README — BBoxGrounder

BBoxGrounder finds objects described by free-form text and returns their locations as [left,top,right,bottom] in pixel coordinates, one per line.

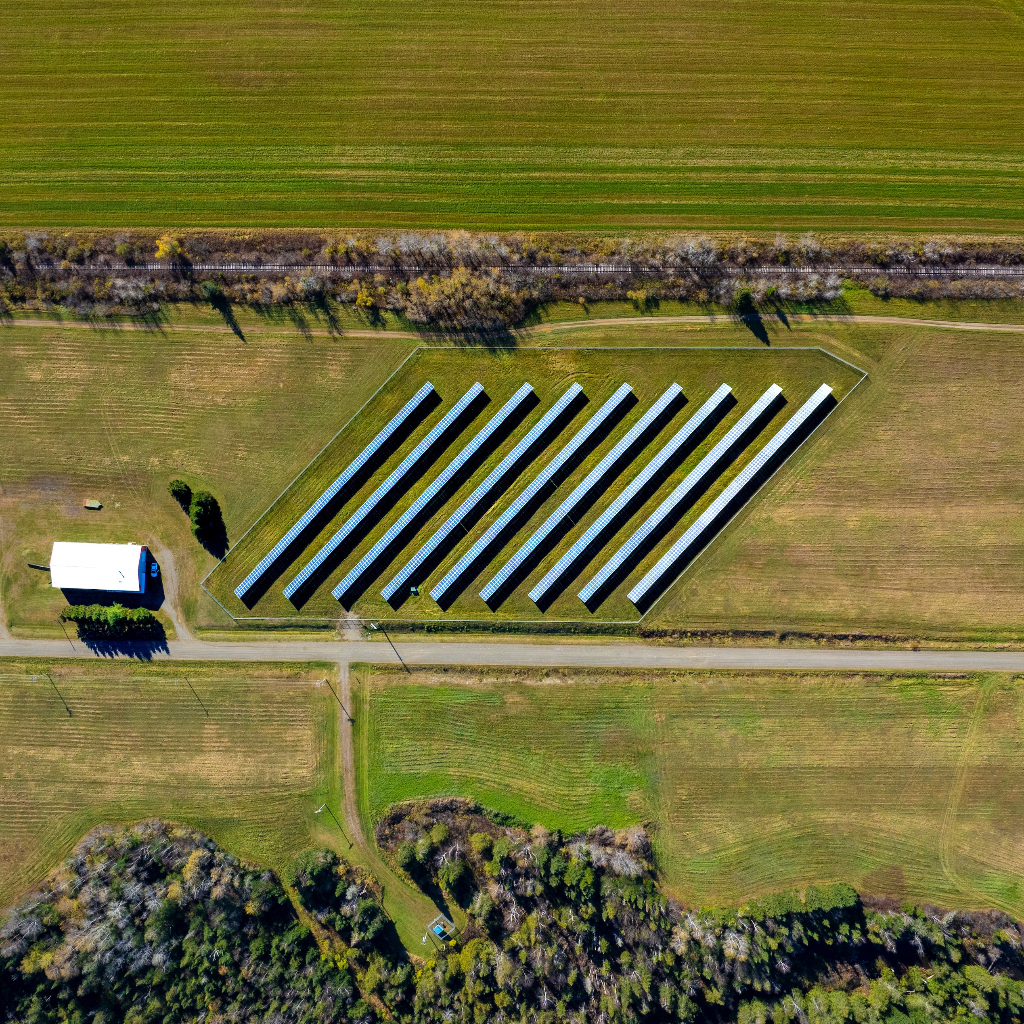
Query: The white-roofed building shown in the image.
[50,542,146,592]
